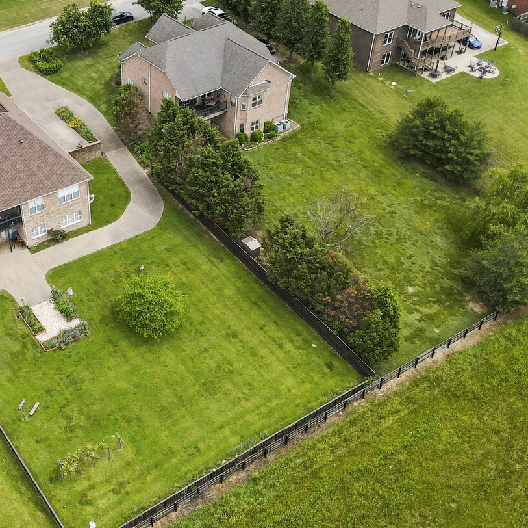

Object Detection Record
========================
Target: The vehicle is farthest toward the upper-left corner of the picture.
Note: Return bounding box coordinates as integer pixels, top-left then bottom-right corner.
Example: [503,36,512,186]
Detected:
[109,9,135,24]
